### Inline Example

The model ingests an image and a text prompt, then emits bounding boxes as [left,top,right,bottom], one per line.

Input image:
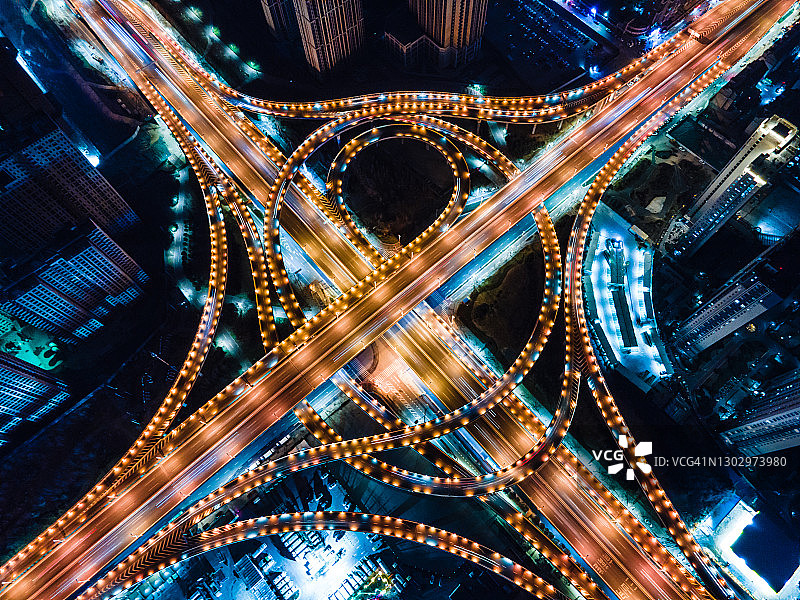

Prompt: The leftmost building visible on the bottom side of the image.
[0,338,70,438]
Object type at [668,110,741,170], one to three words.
building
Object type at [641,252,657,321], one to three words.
shed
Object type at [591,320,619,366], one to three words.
shed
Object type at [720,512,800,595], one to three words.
building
